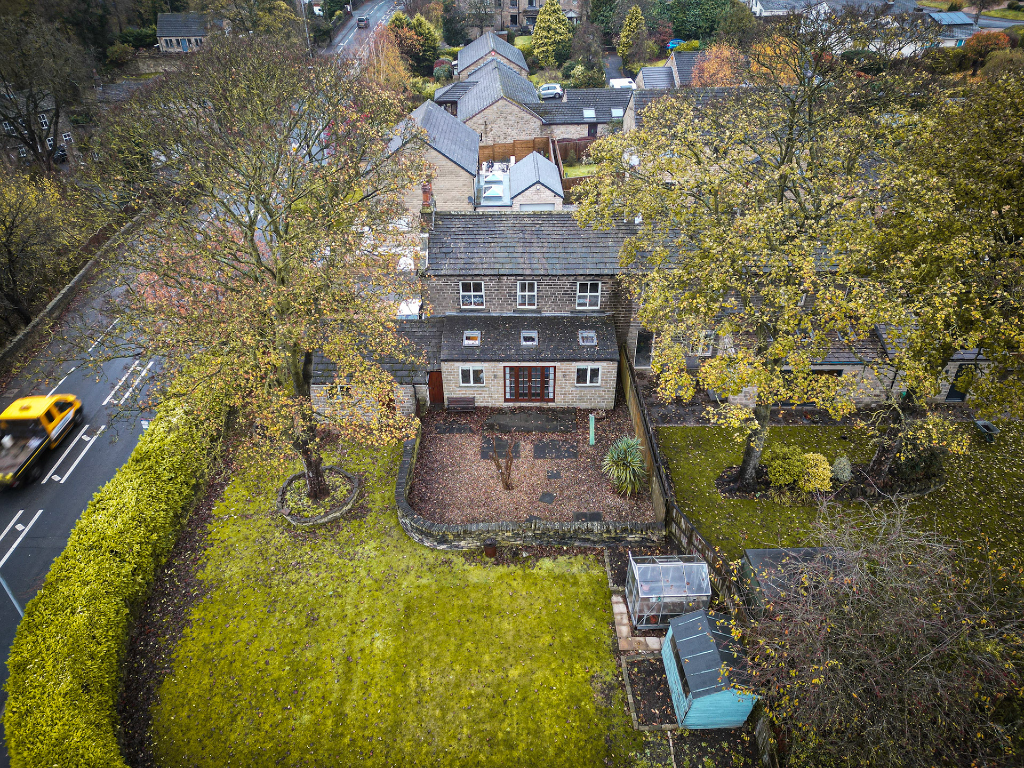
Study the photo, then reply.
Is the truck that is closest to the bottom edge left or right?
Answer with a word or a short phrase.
left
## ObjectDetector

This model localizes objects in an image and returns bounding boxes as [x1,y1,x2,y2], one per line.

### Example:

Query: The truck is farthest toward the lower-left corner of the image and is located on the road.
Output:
[0,395,88,496]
